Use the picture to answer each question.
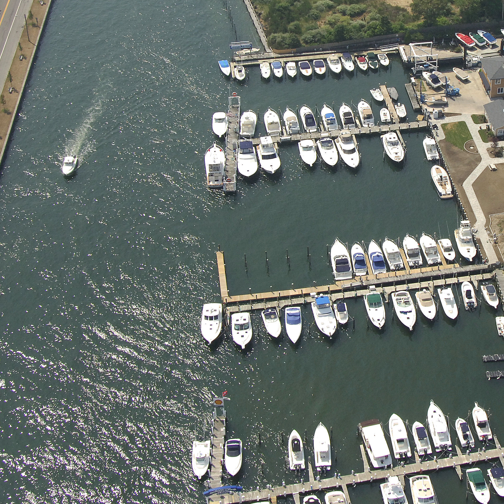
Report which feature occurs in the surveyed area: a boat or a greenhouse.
boat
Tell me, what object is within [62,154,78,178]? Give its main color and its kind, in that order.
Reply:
white boat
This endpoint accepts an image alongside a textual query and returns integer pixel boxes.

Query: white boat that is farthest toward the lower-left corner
[192,438,211,480]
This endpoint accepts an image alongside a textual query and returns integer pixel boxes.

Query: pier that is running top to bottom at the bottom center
[205,410,228,504]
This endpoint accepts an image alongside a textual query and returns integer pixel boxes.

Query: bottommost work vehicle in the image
[423,76,461,97]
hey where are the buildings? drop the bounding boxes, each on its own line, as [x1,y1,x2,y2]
[486,99,504,137]
[476,56,504,97]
